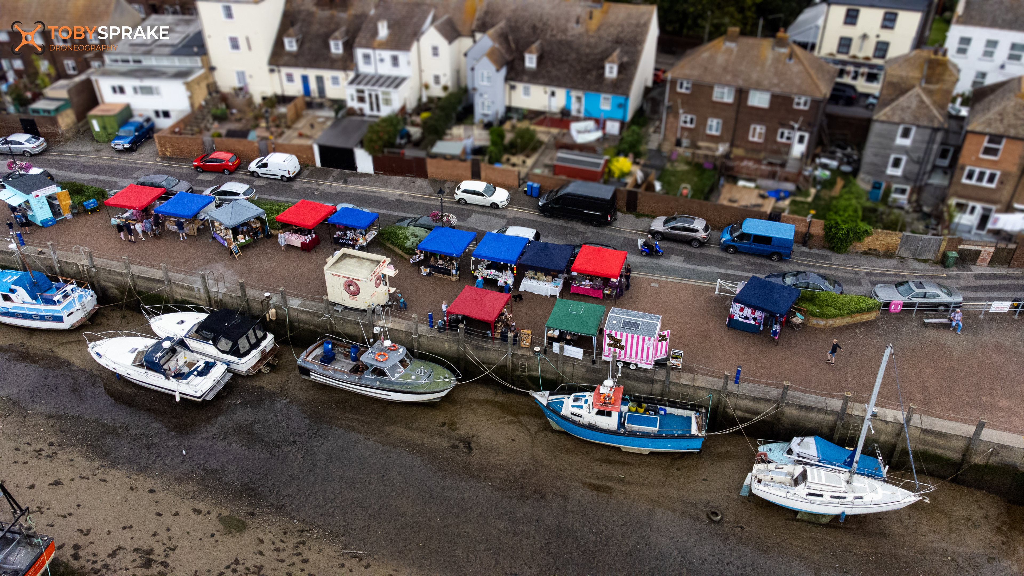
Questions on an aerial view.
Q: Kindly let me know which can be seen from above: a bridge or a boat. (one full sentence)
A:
It is a boat that can be seen here.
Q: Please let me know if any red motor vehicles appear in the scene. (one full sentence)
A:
Yes, there's a red motor vehicle here.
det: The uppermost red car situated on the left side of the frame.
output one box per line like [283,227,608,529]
[189,151,244,175]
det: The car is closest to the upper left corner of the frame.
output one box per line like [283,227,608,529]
[0,133,47,156]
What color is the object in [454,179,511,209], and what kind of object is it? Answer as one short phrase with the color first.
white car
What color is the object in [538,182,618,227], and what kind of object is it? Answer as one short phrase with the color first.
black van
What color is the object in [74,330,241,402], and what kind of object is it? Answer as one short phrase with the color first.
white boat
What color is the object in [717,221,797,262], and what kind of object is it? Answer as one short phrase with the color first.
blue van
